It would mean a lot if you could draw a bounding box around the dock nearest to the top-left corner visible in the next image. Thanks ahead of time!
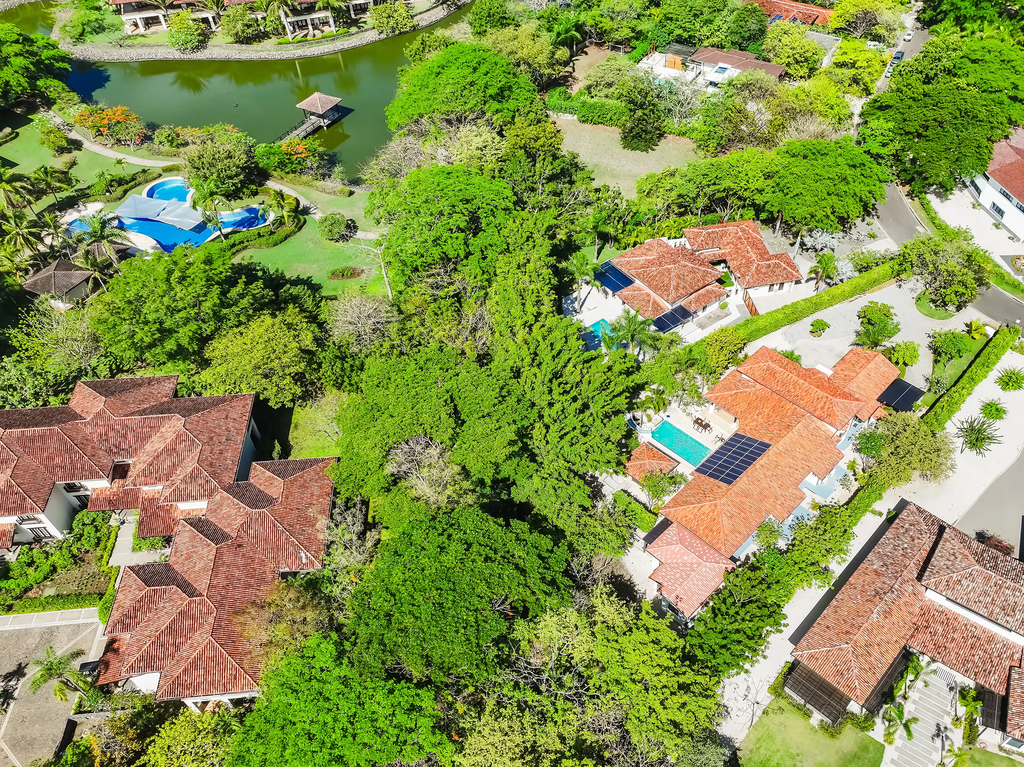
[260,111,322,145]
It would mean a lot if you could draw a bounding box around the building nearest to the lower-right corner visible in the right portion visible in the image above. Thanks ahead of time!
[775,500,1024,763]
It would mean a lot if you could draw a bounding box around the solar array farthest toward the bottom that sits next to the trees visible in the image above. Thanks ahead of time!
[695,432,771,485]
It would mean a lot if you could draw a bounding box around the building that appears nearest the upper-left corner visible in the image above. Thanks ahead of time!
[115,0,171,34]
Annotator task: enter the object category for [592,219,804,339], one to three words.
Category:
house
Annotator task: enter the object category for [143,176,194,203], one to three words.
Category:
swimming pool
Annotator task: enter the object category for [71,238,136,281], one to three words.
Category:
building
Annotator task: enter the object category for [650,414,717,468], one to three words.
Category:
swimming pool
